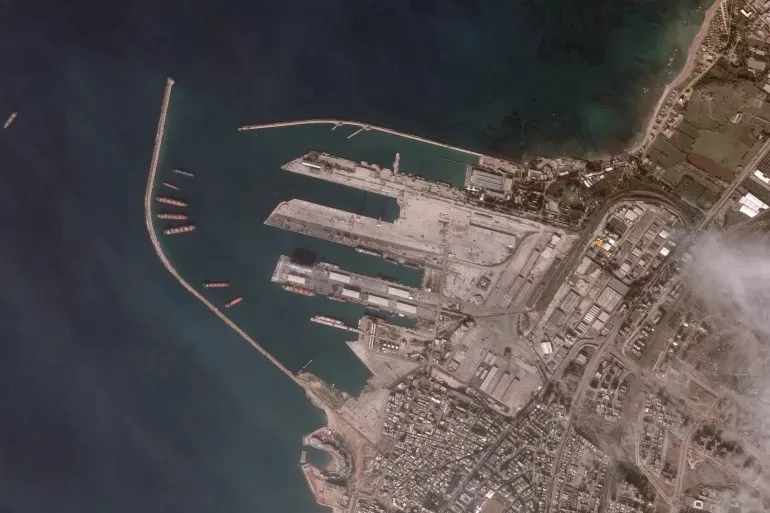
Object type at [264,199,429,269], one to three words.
pier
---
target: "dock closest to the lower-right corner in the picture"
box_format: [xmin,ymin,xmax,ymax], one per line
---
[347,316,434,378]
